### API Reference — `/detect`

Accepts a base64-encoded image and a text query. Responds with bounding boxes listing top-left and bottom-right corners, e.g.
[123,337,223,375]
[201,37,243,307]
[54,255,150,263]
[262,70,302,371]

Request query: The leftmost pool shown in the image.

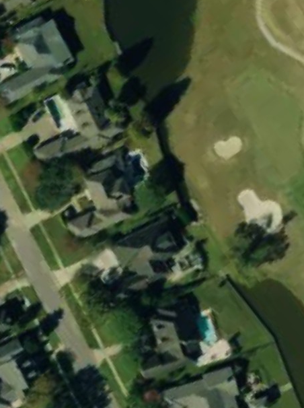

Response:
[43,94,78,131]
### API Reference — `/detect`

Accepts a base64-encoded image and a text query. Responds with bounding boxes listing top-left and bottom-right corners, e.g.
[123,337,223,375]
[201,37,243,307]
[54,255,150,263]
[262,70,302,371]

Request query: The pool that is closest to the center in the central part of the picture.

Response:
[126,150,148,184]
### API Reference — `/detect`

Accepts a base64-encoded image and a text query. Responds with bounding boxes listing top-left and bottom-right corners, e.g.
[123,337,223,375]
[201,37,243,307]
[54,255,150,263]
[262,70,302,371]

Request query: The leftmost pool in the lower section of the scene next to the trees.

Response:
[197,307,232,367]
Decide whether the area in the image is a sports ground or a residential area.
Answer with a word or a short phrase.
residential area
